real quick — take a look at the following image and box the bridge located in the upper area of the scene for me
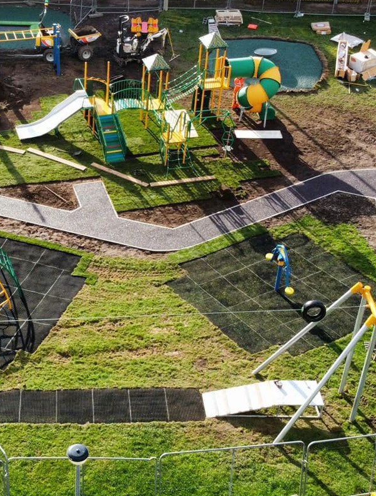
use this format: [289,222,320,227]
[160,64,207,106]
